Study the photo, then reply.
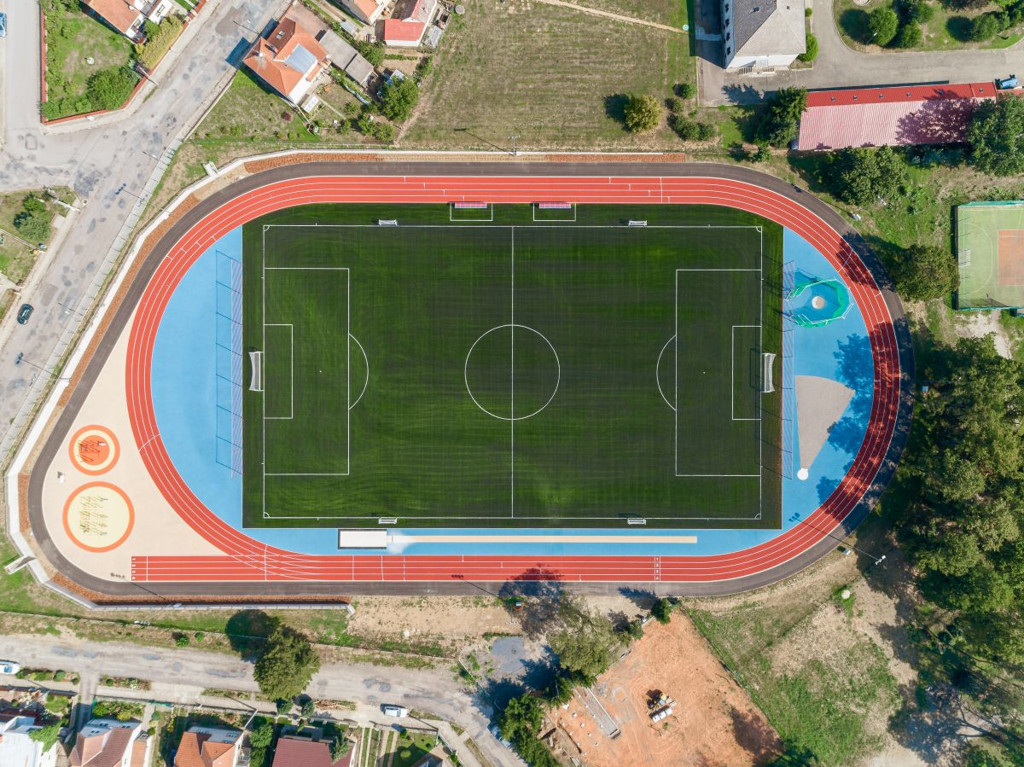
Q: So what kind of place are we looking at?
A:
sports ground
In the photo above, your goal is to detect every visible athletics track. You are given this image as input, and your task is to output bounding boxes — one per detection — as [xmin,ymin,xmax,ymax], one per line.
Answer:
[125,176,901,582]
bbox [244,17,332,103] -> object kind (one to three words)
house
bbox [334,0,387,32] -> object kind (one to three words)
house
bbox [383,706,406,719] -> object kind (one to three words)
vehicle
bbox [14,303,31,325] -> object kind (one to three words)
car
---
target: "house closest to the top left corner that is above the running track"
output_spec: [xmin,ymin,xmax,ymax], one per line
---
[84,0,149,43]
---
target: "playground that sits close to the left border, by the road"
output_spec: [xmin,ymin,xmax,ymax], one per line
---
[42,287,228,582]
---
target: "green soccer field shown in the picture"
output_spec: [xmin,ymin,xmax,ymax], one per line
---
[242,203,783,529]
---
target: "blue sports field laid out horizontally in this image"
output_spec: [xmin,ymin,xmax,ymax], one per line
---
[151,225,874,555]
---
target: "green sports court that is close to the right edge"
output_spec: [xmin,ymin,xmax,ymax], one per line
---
[960,204,1024,307]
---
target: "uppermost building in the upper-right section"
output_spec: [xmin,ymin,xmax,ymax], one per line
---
[726,0,803,78]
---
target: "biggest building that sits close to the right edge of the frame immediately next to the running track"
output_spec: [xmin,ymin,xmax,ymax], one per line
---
[793,82,1004,154]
